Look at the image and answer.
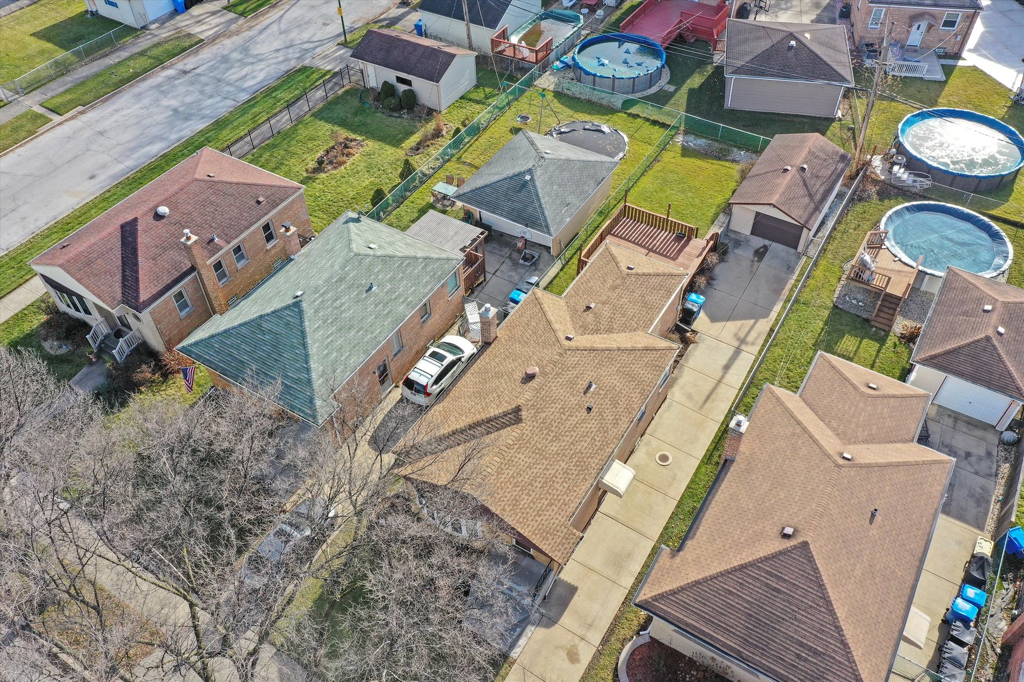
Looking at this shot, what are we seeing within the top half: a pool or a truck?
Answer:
pool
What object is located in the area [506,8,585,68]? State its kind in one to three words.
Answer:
swimming pool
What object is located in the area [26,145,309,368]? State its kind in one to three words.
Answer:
house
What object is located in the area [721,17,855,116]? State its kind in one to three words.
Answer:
building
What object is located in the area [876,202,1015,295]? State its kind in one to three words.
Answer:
swimming pool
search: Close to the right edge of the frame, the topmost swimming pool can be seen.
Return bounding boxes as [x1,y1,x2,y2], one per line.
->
[892,108,1024,193]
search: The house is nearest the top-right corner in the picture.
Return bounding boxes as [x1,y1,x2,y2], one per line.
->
[851,0,985,85]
